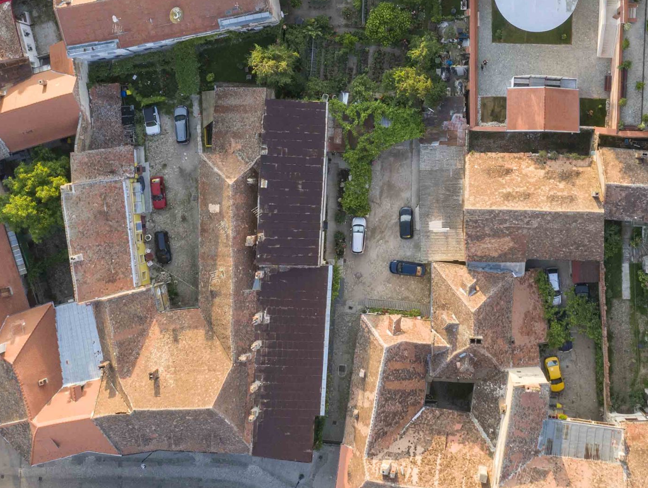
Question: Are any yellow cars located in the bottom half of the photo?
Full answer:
Yes, there is a yellow car in the bottom half of the photo.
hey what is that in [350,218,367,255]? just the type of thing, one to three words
car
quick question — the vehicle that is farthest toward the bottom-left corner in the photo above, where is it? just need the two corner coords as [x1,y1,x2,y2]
[152,228,171,268]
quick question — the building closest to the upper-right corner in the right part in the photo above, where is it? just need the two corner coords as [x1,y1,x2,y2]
[506,76,579,130]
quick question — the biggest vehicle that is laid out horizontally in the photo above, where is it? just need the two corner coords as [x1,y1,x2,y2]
[387,260,424,277]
